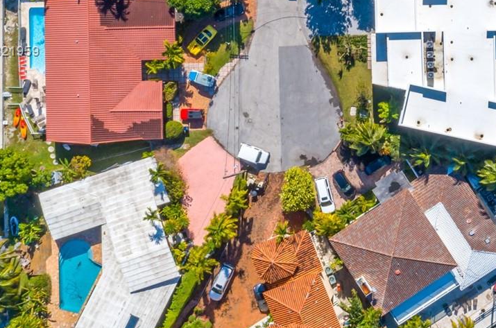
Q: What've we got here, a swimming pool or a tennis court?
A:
swimming pool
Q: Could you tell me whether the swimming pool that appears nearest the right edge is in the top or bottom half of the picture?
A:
bottom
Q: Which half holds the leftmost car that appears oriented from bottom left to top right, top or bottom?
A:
top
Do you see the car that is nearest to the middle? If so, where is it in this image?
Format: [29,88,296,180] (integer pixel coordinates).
[235,142,272,167]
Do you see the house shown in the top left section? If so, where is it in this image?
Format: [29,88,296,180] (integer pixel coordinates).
[45,0,178,144]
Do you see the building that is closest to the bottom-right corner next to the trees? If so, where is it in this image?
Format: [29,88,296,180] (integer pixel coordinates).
[329,170,496,326]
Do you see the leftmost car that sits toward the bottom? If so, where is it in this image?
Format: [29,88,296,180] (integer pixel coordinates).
[210,263,235,300]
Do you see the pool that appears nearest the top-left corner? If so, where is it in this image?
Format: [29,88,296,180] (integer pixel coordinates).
[26,5,47,77]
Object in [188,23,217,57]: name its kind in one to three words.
car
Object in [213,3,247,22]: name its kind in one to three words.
car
